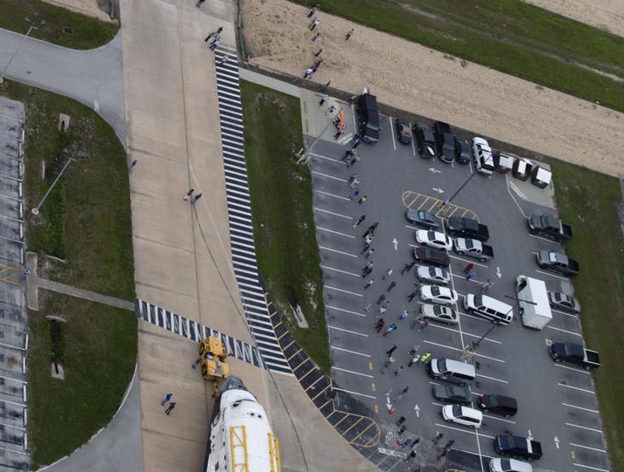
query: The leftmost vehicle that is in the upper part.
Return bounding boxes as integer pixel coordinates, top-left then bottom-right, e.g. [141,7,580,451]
[355,96,379,143]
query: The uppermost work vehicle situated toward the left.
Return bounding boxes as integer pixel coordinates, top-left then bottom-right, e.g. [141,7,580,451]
[197,329,229,388]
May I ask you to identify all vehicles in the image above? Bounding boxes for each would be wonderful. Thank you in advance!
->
[430,356,473,383]
[355,96,379,143]
[392,114,412,149]
[197,329,229,388]
[413,229,452,251]
[432,122,455,164]
[412,122,433,160]
[493,434,541,461]
[411,244,452,269]
[403,207,441,230]
[440,403,484,429]
[418,283,457,307]
[463,296,514,323]
[488,456,531,472]
[469,140,493,174]
[451,238,495,264]
[527,216,571,241]
[514,282,555,343]
[444,217,489,243]
[453,133,473,168]
[431,383,472,406]
[551,342,597,370]
[413,264,451,287]
[535,252,578,277]
[419,303,458,327]
[476,394,517,419]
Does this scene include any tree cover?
No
